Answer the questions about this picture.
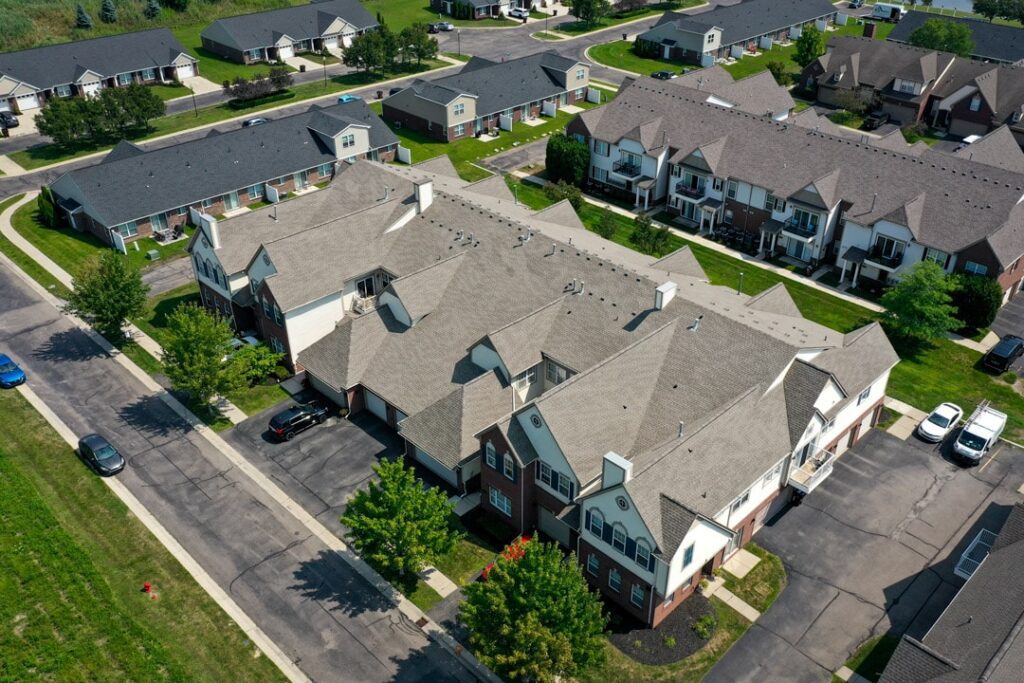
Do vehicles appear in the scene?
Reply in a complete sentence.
Yes, this view includes a vehicle.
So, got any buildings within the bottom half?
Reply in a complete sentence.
Yes, there is a building within the bottom half.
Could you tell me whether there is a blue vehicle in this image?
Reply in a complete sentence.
Yes, there's a blue vehicle here.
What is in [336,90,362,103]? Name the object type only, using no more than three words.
vehicle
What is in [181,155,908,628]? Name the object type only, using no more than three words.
building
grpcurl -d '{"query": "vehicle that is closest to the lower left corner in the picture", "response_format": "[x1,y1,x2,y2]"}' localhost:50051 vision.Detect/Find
[73,431,121,472]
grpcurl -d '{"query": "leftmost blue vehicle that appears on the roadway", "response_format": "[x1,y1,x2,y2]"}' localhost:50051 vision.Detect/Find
[0,350,26,384]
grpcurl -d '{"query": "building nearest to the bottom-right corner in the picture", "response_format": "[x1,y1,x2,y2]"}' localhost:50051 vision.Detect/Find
[869,473,1024,683]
